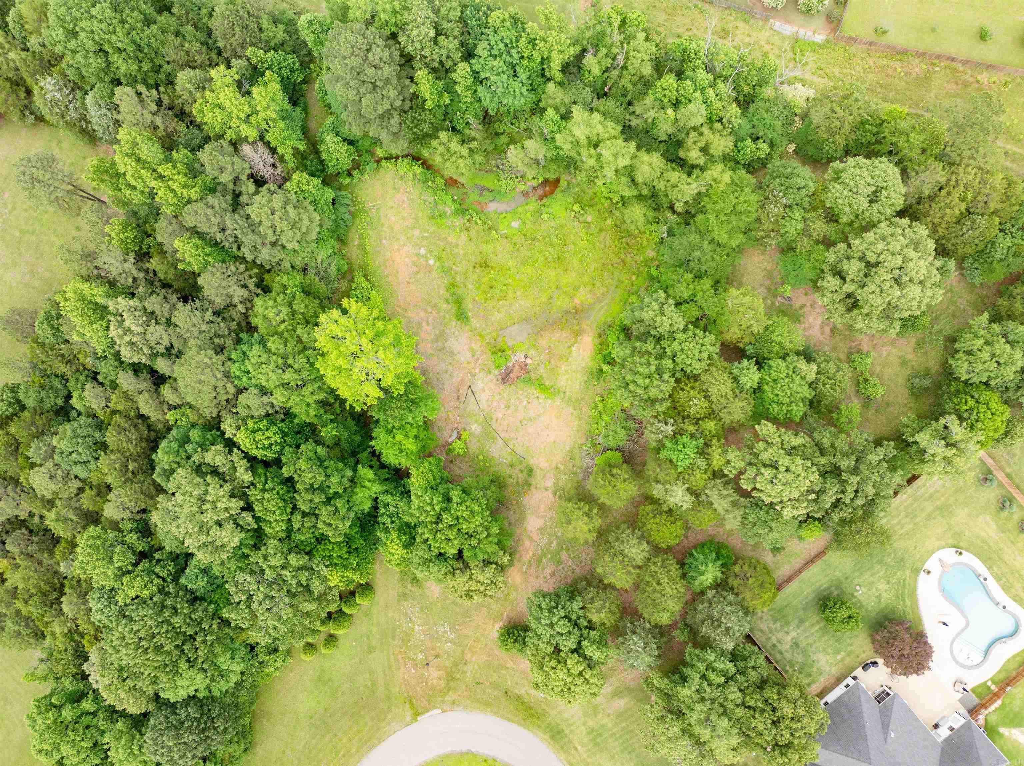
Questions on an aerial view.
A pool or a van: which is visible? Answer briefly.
pool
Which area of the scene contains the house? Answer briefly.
bottom right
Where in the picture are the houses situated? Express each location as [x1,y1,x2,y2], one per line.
[797,677,1008,766]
